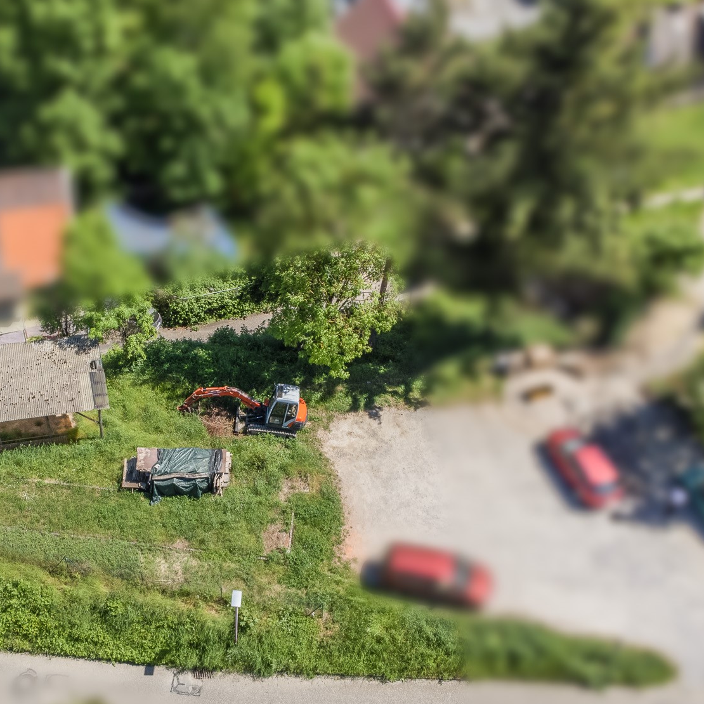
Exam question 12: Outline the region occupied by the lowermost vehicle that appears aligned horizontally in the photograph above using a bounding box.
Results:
[375,538,497,615]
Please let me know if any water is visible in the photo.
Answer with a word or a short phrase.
No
